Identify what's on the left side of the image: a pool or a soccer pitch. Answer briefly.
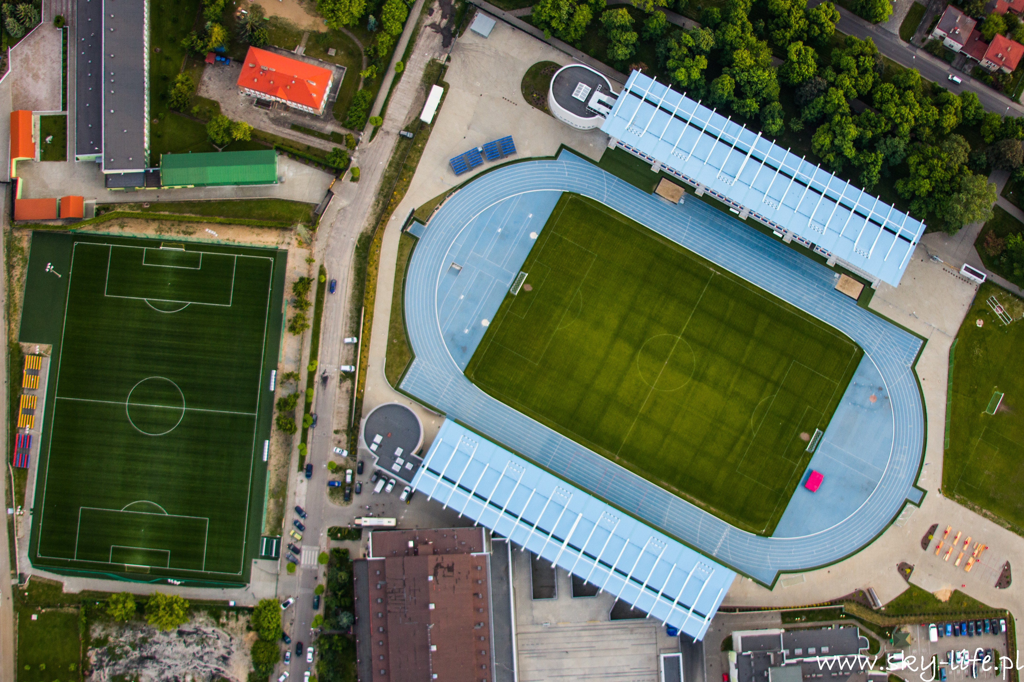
soccer pitch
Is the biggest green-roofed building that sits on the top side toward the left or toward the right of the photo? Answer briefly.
left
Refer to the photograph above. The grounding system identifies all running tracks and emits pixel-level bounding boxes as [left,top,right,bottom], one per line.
[393,143,931,593]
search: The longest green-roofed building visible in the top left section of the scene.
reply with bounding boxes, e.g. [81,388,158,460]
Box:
[162,150,278,187]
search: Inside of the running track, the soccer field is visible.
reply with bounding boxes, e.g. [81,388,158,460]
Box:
[464,191,866,538]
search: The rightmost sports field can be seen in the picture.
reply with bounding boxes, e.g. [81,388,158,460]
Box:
[943,284,1024,537]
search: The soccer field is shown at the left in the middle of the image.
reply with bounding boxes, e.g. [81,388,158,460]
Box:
[18,231,288,587]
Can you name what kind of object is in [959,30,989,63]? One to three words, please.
building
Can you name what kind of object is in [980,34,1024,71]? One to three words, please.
house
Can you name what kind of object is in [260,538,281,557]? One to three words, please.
shed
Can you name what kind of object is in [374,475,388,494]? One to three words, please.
vehicle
